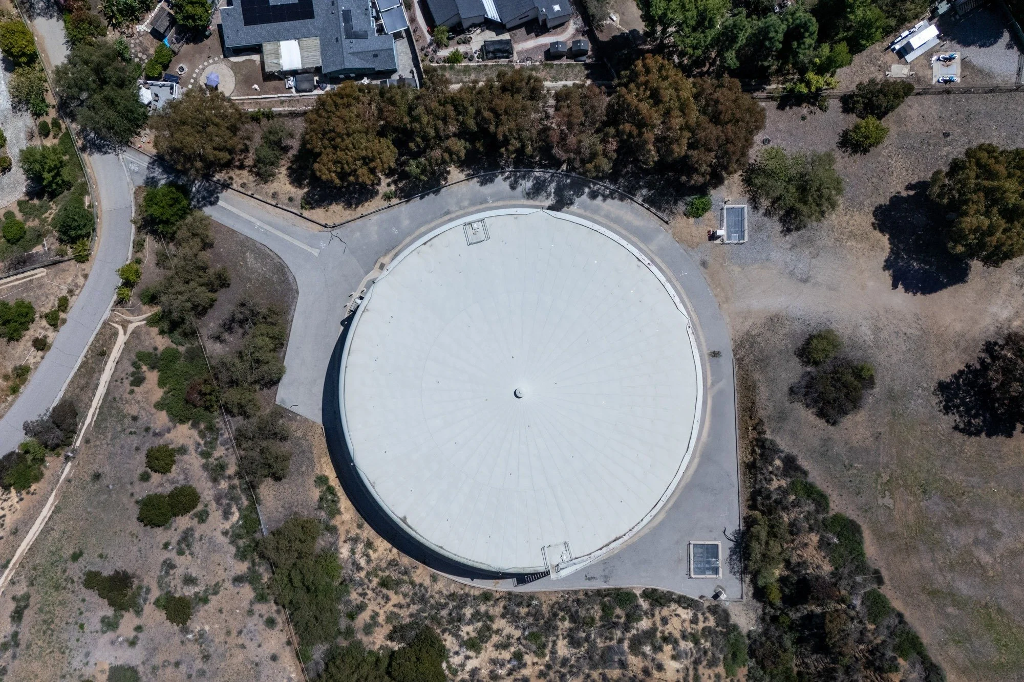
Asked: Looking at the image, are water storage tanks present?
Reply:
Yes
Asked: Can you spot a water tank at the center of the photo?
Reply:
Yes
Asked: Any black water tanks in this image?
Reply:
No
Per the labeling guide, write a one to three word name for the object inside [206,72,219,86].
umbrella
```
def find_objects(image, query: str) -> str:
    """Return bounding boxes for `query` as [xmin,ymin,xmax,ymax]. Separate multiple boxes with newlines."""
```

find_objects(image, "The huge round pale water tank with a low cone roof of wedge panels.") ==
[339,208,702,582]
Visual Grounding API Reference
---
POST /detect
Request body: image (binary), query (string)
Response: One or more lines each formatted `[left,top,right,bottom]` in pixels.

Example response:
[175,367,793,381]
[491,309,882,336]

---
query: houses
[429,0,572,33]
[217,0,399,79]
